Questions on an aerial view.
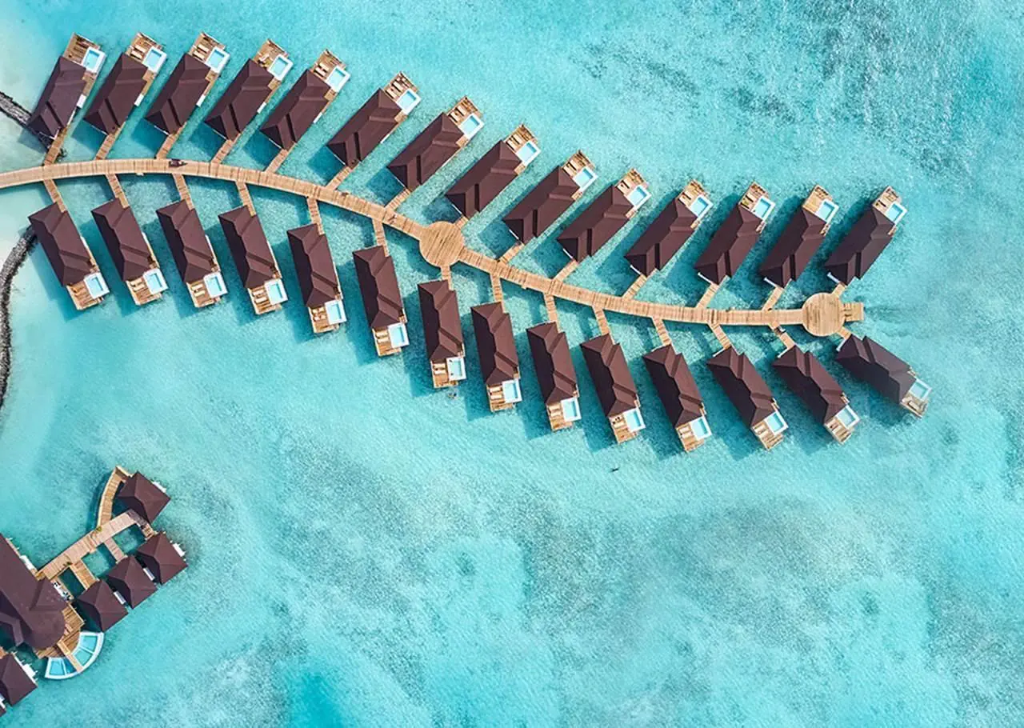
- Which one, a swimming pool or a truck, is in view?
swimming pool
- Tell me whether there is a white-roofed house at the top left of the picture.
No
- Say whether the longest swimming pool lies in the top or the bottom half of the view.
bottom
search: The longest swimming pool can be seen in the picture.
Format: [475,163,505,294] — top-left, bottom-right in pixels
[45,629,109,677]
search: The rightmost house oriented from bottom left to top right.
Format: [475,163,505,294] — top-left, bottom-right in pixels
[821,184,904,285]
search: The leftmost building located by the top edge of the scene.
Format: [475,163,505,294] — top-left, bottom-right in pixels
[27,33,110,141]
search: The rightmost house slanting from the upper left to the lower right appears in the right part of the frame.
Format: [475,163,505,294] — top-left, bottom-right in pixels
[833,335,930,420]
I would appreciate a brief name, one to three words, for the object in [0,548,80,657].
building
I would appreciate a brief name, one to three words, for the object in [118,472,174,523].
building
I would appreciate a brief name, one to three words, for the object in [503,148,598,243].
house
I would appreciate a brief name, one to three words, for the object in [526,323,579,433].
house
